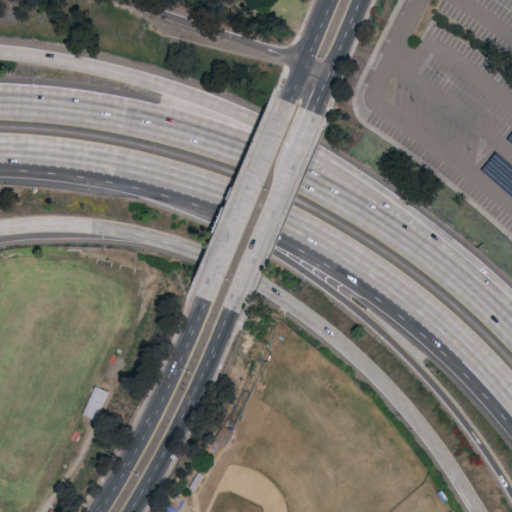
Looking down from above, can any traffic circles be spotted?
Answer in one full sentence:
No, the scene contains no traffic circle.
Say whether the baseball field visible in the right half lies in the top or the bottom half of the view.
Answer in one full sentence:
The baseball field visible in the right half is in the bottom half of the image.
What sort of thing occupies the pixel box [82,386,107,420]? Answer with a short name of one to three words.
building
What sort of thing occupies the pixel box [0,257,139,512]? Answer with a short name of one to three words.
sports field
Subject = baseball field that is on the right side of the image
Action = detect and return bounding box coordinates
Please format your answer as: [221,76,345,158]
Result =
[196,318,452,512]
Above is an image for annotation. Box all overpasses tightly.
[187,90,328,316]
